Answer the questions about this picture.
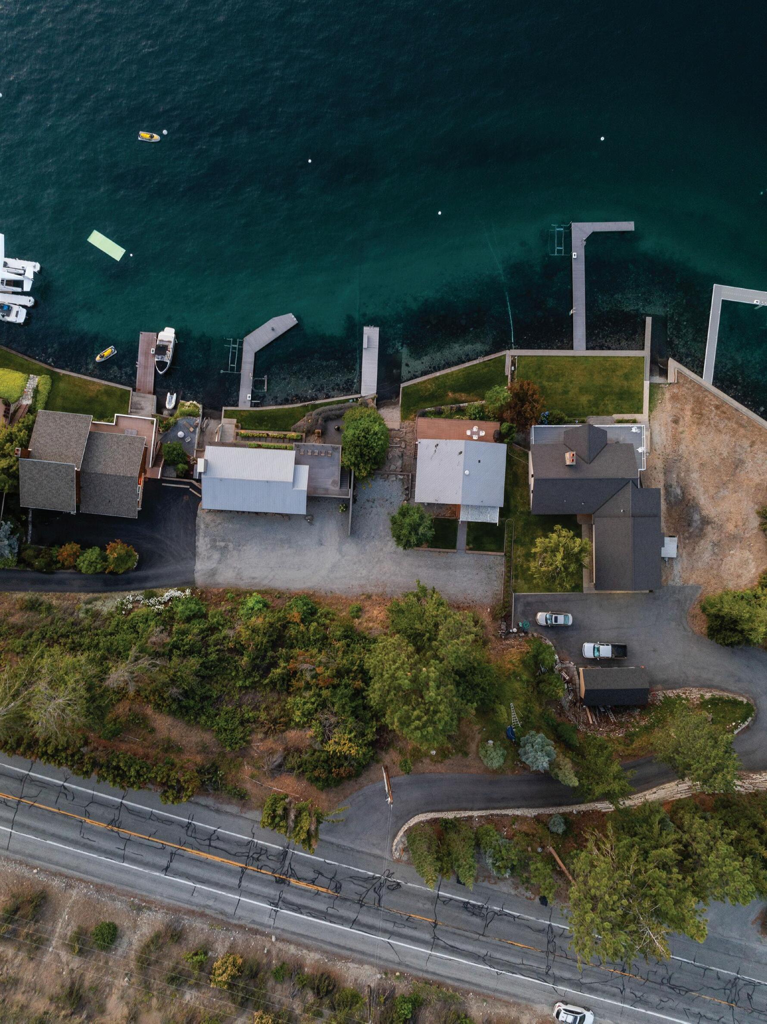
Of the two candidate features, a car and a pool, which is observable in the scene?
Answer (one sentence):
Visible in the photo is a car.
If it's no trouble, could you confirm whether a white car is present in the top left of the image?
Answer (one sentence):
No, the scene shows no white car in the top left of the image.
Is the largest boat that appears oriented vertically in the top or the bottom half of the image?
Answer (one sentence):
Seen from above, the largest boat that appears oriented vertically lies in the top half of the view.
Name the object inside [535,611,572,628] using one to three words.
car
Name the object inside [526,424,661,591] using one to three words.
house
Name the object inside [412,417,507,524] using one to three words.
house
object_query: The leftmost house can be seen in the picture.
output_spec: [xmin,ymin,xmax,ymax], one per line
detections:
[15,410,165,518]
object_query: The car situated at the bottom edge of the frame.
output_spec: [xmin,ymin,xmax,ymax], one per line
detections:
[553,1001,593,1024]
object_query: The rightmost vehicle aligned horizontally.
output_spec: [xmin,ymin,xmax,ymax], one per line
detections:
[582,642,627,660]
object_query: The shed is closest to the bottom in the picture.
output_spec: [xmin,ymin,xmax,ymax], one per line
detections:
[580,665,649,705]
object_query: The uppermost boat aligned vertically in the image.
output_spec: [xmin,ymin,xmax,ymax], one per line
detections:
[155,323,175,372]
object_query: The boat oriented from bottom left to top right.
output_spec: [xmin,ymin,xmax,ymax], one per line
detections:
[97,345,118,361]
